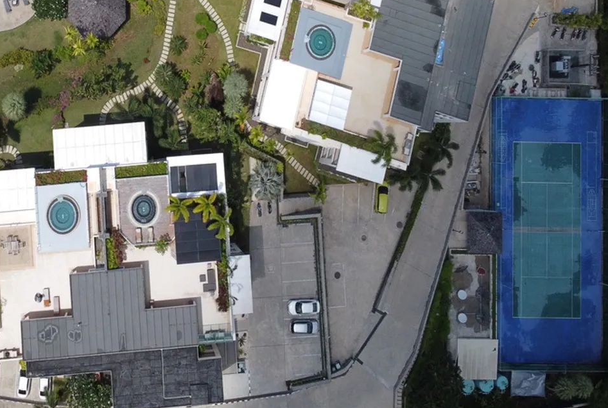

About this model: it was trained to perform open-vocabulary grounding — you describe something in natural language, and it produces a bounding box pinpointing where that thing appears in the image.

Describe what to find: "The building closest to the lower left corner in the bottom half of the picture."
[0,122,253,408]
